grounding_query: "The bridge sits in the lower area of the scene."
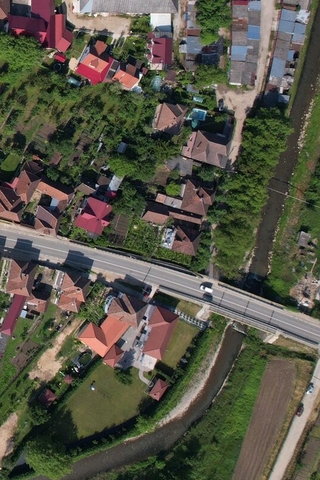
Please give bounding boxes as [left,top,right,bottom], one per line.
[193,277,320,354]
